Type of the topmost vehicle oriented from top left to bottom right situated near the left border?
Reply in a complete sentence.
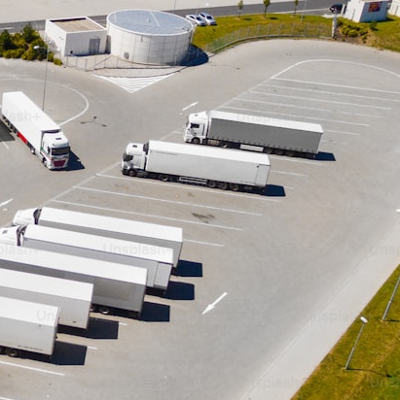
The topmost vehicle oriented from top left to bottom right situated near the left border in the image is a truck.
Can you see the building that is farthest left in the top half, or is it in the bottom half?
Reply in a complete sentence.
The building that is farthest left is in the top half of the image.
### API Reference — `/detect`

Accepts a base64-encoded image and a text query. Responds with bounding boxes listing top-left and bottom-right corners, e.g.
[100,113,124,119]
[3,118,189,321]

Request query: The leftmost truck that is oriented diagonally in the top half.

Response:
[2,90,73,170]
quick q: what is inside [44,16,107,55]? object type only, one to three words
building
